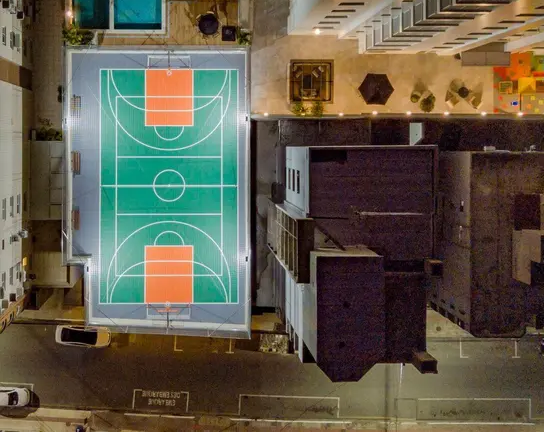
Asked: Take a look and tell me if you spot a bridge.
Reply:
No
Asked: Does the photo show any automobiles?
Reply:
Yes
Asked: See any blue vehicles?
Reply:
No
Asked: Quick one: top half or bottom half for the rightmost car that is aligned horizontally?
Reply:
bottom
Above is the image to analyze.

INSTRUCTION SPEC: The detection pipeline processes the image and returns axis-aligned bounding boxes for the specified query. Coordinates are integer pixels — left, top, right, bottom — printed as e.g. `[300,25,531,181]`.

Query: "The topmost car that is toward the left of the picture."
[56,324,110,351]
